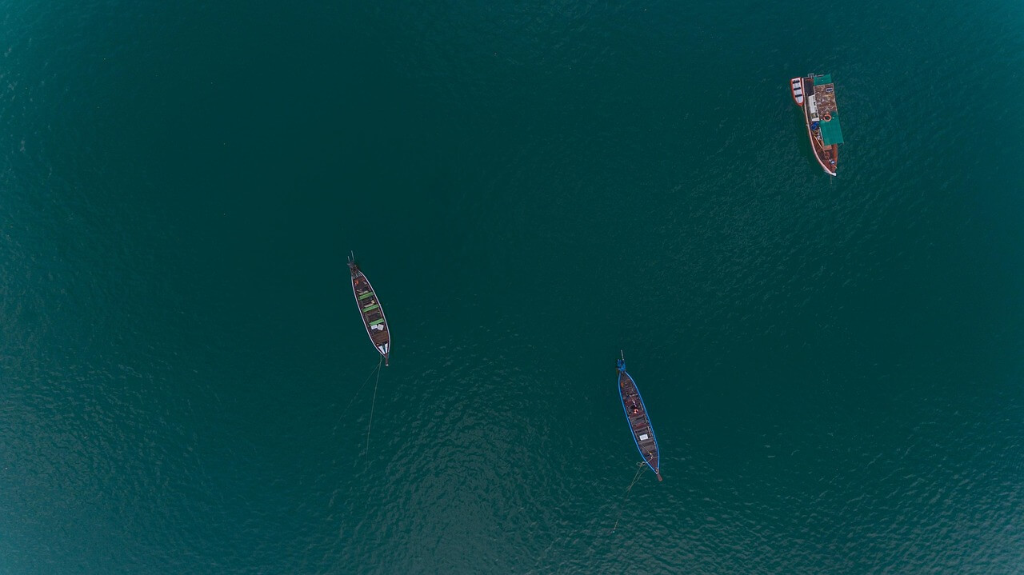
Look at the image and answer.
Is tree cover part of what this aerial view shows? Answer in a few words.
No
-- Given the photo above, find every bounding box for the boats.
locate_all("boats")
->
[801,73,844,177]
[347,253,390,369]
[615,349,662,482]
[790,77,804,107]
